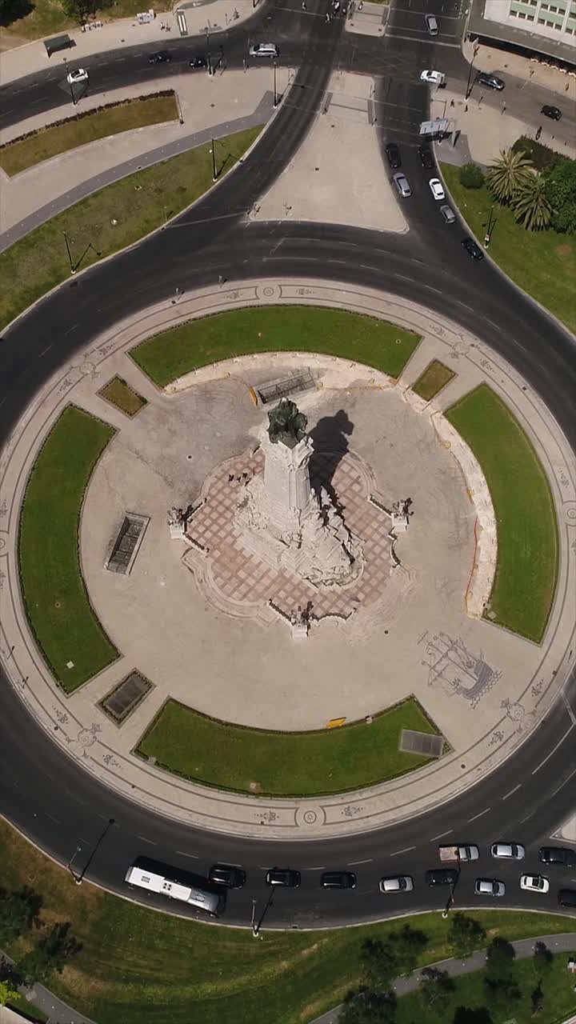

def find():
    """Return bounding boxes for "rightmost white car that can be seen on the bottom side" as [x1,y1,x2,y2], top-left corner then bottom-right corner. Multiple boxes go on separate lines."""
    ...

[520,875,551,894]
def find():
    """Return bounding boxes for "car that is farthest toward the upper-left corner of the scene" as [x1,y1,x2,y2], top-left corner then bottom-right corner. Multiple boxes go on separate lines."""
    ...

[65,66,90,82]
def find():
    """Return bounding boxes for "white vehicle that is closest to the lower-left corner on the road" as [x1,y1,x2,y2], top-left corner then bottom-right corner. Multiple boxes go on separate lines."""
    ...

[127,864,227,919]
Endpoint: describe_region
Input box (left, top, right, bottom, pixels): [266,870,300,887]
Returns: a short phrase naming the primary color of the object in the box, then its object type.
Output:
black car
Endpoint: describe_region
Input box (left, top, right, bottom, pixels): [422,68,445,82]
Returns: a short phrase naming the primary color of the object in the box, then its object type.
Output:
white car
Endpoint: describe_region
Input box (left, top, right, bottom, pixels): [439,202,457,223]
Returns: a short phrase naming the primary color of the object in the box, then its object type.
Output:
gray car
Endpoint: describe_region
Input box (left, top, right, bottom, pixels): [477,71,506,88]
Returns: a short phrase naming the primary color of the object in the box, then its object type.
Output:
black car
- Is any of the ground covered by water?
No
